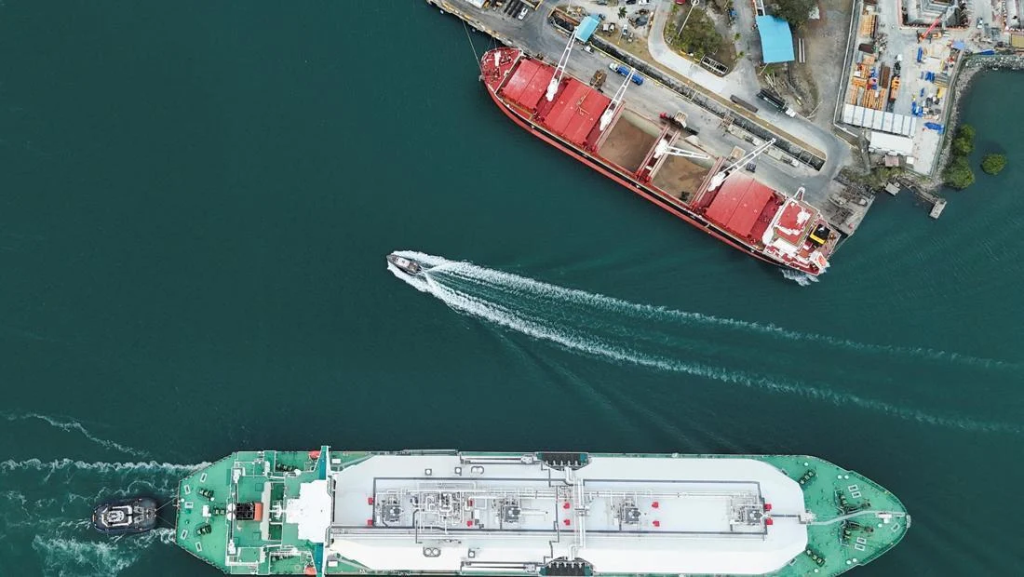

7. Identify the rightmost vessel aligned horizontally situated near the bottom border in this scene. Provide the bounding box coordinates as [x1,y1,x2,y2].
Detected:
[171,446,912,577]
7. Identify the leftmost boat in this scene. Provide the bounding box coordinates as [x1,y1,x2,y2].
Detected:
[89,498,161,534]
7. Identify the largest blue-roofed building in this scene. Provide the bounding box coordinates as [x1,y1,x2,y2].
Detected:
[753,16,794,67]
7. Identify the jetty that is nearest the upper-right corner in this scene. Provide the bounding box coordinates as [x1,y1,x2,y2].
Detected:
[897,180,947,218]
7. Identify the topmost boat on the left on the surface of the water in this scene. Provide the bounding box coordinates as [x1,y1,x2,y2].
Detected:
[388,254,423,276]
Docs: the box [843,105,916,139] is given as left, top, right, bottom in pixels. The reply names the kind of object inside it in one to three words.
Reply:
shed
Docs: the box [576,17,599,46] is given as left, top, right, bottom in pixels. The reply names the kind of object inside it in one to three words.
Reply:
shed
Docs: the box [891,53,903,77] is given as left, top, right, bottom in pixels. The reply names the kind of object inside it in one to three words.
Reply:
vehicle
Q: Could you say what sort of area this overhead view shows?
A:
port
